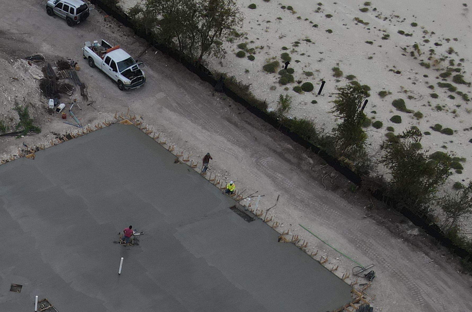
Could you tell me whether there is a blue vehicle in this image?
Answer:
No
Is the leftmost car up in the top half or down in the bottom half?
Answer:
top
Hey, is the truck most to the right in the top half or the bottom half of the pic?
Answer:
top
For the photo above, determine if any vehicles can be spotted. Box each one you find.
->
[82,40,148,91]
[45,0,91,27]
